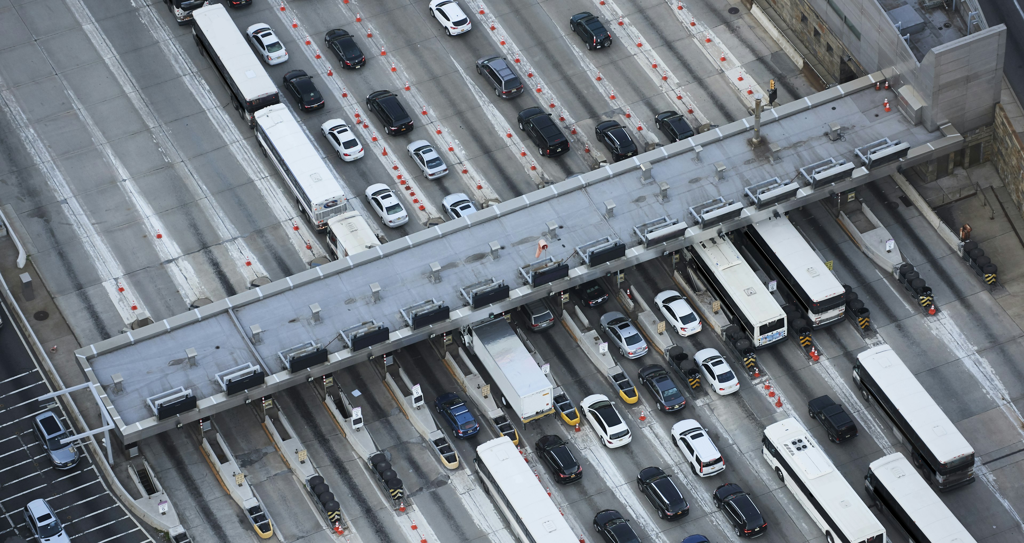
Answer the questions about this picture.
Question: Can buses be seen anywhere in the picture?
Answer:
Yes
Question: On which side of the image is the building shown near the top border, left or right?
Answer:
right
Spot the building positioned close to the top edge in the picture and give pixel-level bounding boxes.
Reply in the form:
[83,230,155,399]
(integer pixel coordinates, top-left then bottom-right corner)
[766,0,1009,184]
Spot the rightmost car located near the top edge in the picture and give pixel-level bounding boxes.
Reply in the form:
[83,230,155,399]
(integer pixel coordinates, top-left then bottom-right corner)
[571,11,613,54]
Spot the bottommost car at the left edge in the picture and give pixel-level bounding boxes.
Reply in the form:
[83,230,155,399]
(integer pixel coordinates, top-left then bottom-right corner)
[23,500,71,543]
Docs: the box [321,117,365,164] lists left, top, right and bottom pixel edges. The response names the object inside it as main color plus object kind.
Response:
white car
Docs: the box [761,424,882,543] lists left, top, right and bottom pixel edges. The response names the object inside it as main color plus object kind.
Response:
white bus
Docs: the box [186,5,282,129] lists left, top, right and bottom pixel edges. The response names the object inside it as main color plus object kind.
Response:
white bus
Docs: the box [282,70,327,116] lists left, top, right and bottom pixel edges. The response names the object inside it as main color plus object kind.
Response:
black car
